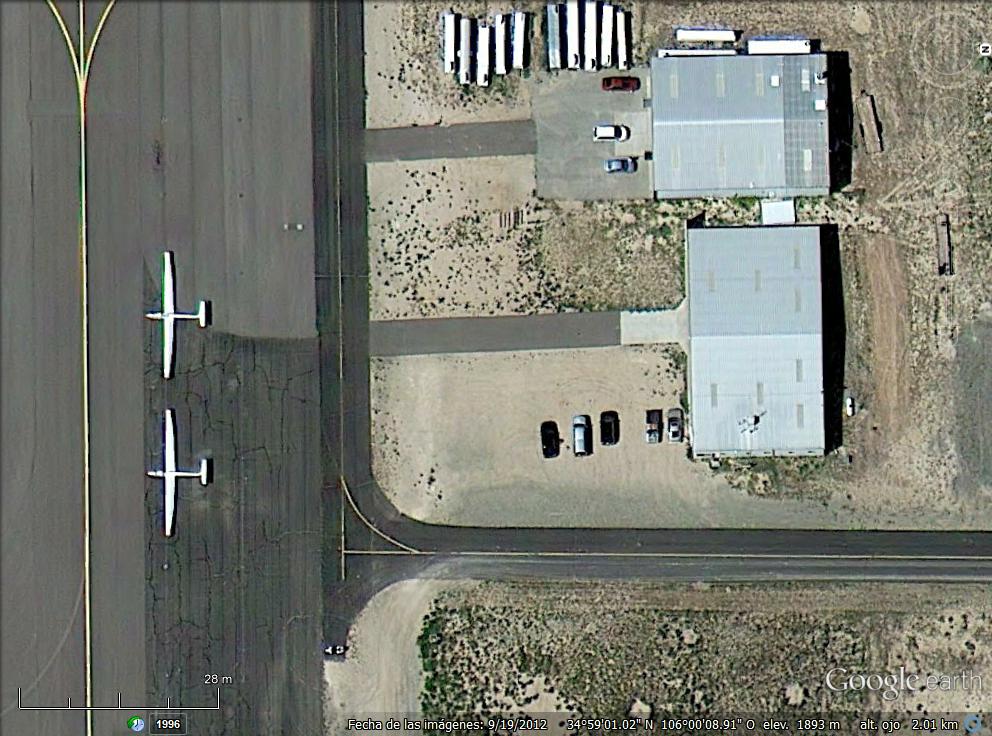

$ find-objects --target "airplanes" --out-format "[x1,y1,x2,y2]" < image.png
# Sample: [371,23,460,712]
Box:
[147,409,206,537]
[147,253,205,379]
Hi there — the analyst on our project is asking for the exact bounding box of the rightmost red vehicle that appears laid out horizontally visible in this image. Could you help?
[602,77,637,92]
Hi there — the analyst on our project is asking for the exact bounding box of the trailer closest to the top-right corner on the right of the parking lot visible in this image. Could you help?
[856,90,881,154]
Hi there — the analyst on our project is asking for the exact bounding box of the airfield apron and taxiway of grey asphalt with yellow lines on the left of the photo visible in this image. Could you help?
[0,0,447,736]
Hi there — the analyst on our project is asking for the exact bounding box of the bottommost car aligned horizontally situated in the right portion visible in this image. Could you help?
[604,158,635,173]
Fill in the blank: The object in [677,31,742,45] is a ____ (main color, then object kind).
white vehicle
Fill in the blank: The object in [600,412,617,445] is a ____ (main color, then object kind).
black car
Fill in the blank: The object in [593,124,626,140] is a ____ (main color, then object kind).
white car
